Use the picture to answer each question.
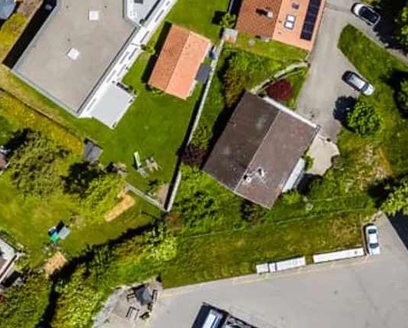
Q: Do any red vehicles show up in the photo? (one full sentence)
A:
No, there appears to be no red vehicle in this shot.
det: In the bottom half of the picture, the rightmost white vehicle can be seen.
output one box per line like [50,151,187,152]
[364,221,381,257]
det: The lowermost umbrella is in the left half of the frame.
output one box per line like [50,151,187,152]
[136,284,155,304]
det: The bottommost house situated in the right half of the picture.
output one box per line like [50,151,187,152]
[202,90,321,209]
